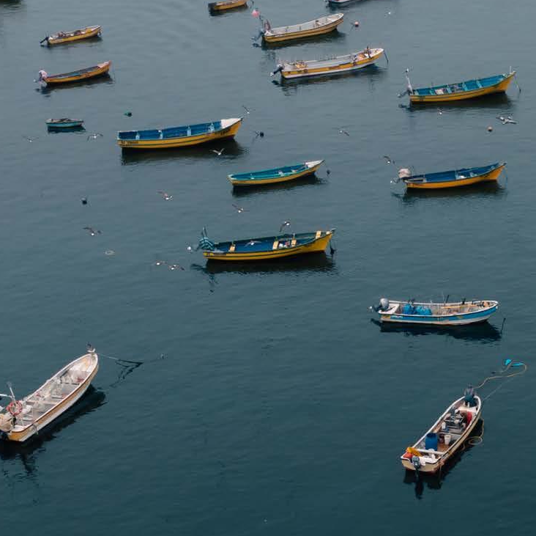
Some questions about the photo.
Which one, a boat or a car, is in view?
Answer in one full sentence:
The one in the frame is a boat.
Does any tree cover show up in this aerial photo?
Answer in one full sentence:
No, the picture contains no tree cover.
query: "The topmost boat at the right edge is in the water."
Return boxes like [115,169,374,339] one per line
[403,71,517,102]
